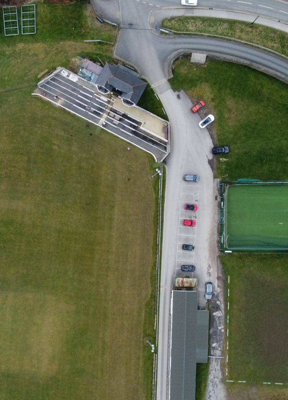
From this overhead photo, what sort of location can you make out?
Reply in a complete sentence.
This looks like a sports ground.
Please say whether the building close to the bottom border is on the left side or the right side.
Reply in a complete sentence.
The building close to the bottom border sits on the right side.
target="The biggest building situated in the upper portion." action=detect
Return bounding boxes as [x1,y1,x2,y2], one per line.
[96,62,148,108]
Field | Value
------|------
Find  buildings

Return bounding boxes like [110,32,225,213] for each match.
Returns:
[188,53,207,66]
[96,62,148,108]
[168,290,209,400]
